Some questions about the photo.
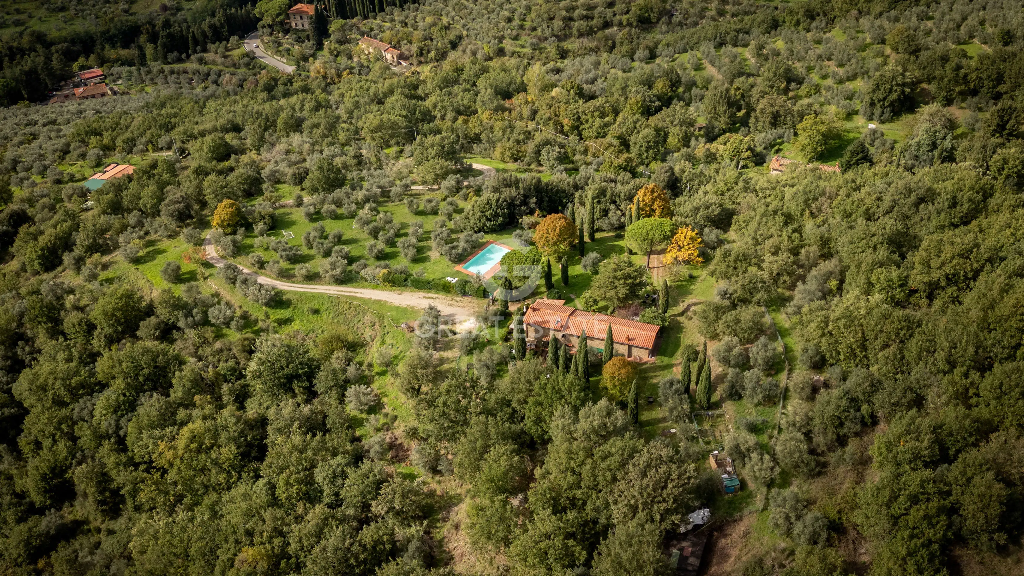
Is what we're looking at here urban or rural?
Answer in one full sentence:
From above, the setting appears rural.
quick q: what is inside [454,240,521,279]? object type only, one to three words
swimming pool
